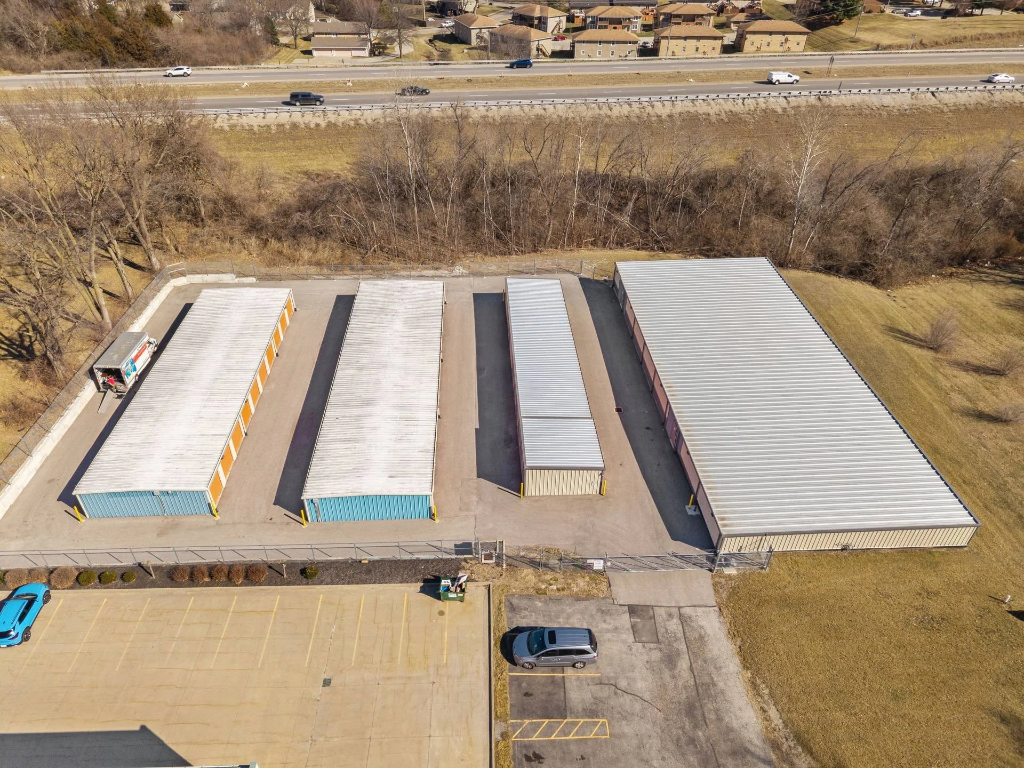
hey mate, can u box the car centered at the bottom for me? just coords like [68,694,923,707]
[512,624,602,670]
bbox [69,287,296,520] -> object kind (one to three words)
building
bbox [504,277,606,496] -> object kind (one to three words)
building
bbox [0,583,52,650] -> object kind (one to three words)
car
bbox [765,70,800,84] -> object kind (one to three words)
vehicle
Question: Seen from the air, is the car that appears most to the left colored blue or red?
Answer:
blue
